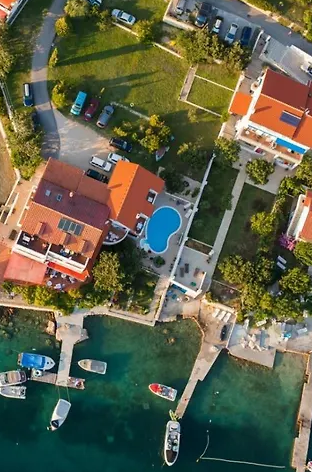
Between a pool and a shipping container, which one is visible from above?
pool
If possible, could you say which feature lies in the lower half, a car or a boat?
boat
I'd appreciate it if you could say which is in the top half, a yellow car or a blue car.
blue car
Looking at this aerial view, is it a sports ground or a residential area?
residential area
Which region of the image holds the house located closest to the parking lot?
top right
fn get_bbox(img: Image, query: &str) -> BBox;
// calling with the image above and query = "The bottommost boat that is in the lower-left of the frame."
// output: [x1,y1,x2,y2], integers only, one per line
[47,399,70,434]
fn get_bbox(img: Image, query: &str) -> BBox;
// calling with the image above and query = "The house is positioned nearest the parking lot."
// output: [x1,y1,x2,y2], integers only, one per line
[229,68,312,172]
